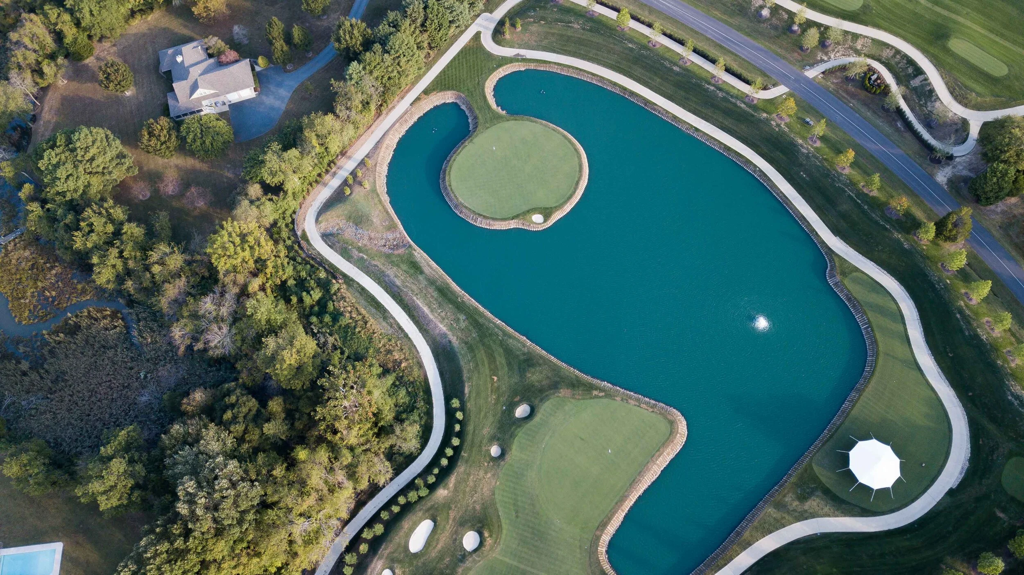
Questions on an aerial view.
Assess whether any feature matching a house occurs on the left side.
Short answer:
Yes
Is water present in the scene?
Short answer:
Yes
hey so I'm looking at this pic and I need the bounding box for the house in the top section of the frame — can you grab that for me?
[159,41,257,124]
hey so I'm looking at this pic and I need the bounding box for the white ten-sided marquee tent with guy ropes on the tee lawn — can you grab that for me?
[836,433,905,501]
